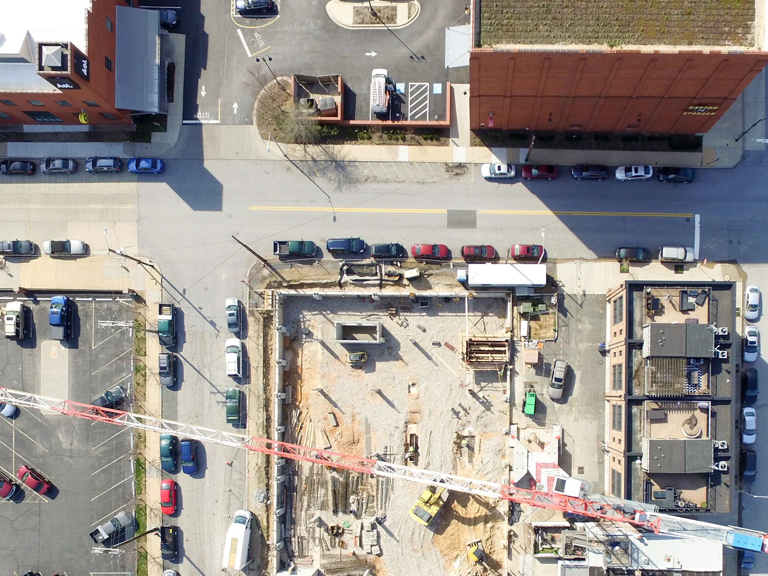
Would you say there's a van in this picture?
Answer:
Yes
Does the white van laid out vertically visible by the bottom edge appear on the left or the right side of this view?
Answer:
left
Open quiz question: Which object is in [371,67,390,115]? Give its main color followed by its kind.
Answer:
white vehicle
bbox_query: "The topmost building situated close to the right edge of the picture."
[471,0,768,135]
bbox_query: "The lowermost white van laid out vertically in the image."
[220,508,252,572]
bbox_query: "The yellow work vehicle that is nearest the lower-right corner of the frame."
[460,539,491,576]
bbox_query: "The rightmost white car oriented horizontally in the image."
[657,244,695,262]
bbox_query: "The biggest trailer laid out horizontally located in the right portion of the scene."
[462,263,555,300]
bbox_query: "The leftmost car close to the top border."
[161,8,180,28]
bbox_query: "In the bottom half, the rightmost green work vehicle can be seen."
[522,384,539,414]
